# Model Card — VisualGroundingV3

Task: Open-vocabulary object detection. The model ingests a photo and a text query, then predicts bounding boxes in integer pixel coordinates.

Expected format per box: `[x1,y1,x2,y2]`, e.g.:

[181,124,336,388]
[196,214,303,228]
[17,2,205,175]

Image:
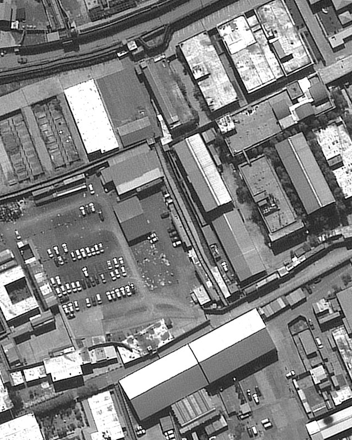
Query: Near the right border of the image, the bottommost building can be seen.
[305,406,352,440]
